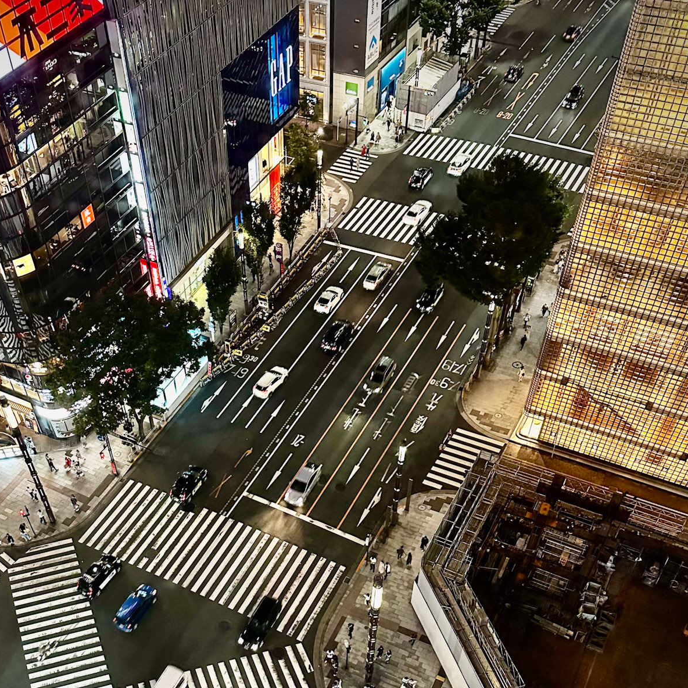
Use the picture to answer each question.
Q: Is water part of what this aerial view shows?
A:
No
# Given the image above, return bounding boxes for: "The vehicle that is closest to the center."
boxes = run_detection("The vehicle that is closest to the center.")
[320,320,356,358]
